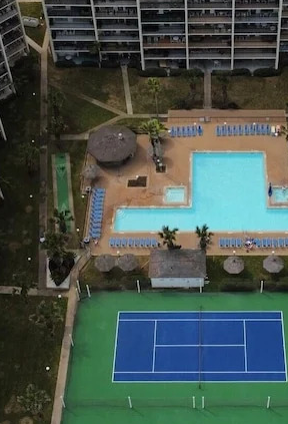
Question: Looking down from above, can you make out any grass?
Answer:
Yes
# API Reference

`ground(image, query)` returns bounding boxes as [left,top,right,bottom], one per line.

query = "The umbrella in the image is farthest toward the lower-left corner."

[93,251,117,272]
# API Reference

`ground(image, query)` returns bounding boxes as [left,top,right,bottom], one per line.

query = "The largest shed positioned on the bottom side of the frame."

[161,248,212,284]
